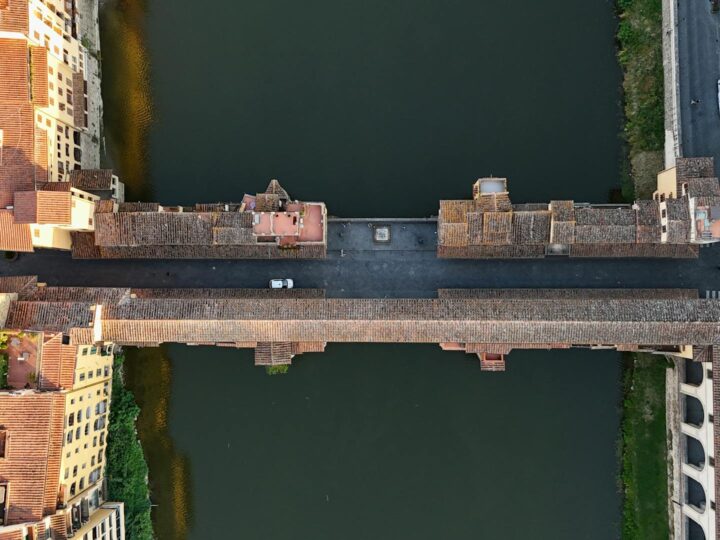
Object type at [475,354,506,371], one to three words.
house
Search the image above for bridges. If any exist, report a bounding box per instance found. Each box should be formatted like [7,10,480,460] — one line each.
[80,218,674,343]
